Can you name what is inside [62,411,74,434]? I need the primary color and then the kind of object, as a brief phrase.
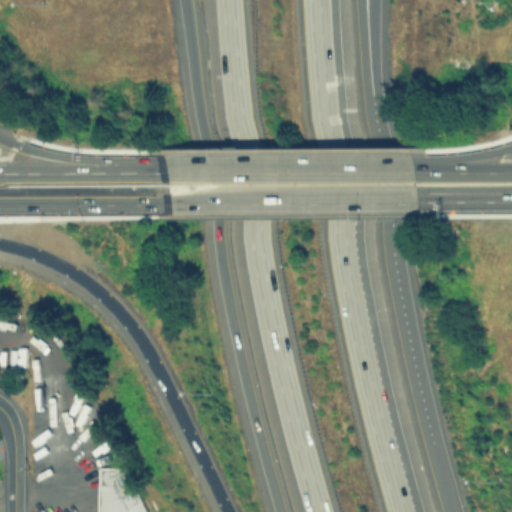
white vehicle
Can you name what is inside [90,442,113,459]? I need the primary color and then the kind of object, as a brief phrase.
white camper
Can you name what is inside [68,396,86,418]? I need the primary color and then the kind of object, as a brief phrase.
white vehicle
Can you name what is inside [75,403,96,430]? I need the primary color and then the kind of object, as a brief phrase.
white camper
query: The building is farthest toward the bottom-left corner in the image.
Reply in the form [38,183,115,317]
[98,468,152,512]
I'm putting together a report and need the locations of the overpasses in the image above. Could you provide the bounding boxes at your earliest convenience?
[164,149,418,219]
